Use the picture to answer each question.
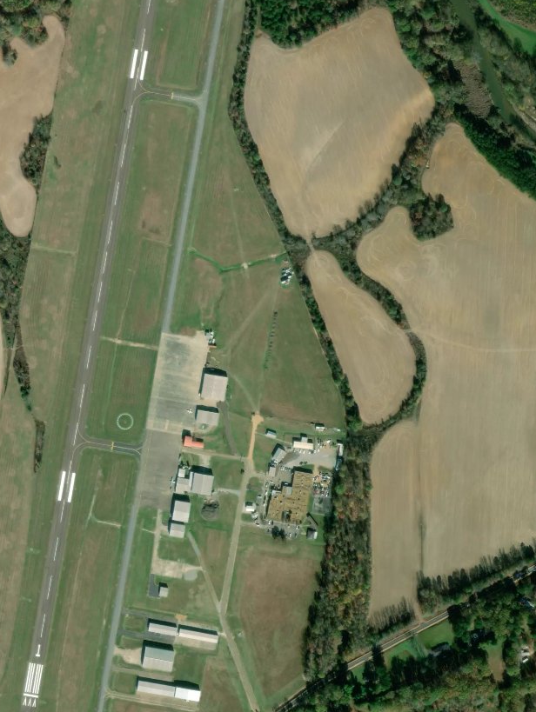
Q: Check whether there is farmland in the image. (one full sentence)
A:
Yes, farmland shows up in the scene.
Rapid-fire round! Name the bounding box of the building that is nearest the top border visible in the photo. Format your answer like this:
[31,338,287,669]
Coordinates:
[201,374,228,401]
